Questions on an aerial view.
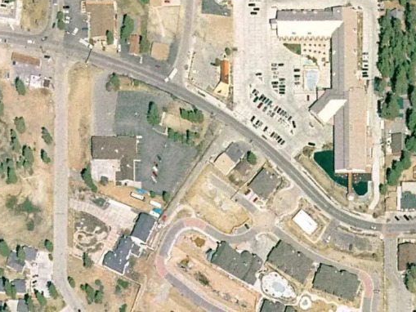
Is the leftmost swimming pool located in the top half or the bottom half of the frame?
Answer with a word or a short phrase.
bottom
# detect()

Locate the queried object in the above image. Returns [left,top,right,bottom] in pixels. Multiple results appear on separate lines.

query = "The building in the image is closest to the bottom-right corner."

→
[398,243,416,272]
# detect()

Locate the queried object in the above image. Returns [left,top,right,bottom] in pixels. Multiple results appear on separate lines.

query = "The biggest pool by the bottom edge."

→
[262,271,296,299]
